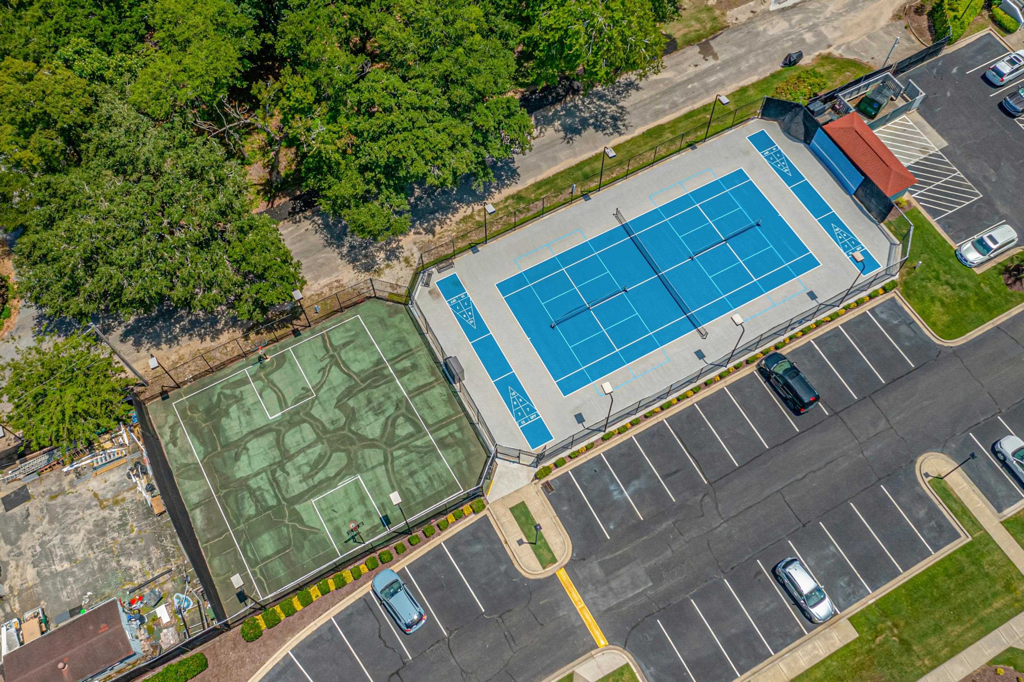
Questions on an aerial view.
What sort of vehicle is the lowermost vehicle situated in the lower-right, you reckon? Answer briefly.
automobile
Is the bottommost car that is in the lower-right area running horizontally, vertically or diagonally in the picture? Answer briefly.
diagonally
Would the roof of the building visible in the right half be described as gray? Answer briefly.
No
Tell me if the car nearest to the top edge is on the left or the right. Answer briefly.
right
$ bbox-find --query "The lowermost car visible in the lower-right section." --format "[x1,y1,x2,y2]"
[776,556,833,625]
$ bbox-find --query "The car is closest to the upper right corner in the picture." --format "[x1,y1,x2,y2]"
[986,50,1024,86]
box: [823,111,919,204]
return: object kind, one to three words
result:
building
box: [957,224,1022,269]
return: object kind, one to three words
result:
car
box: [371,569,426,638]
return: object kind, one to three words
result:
car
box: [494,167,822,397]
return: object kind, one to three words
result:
tennis court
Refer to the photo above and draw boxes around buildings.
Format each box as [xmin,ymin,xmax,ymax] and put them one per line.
[823,111,919,204]
[2,598,150,682]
